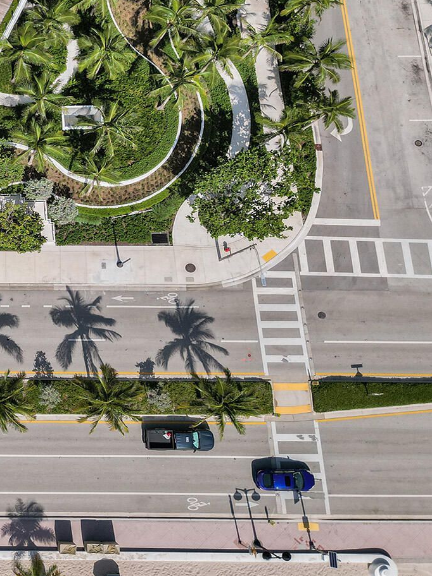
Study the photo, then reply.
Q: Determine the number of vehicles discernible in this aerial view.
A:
two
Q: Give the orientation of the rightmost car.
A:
from left to right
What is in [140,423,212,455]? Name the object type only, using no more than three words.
truck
